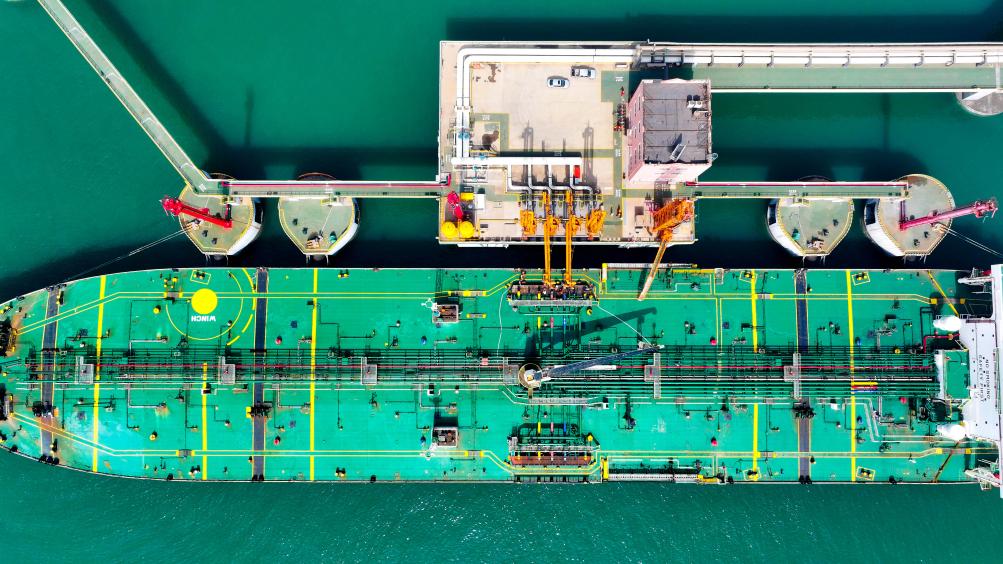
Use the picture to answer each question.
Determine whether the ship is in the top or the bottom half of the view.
bottom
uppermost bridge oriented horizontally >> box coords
[637,41,1003,94]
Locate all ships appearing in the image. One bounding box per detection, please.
[0,262,1003,498]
